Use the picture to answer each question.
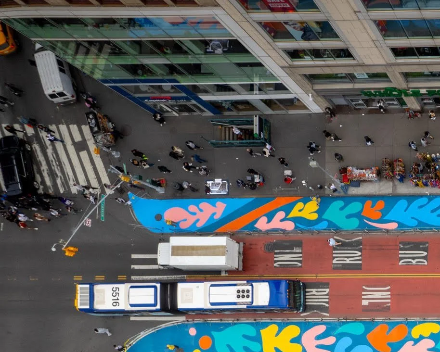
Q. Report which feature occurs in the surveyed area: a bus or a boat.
bus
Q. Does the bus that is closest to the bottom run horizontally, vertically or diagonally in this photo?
horizontally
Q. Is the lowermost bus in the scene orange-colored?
No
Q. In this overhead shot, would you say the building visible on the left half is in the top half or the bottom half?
top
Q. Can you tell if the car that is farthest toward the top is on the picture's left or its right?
left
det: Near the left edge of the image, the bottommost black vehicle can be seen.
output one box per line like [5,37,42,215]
[0,139,44,205]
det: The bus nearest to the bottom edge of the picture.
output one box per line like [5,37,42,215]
[76,279,307,316]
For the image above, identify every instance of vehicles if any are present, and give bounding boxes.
[0,139,44,205]
[76,279,307,316]
[0,23,28,62]
[162,236,246,273]
[33,44,86,107]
